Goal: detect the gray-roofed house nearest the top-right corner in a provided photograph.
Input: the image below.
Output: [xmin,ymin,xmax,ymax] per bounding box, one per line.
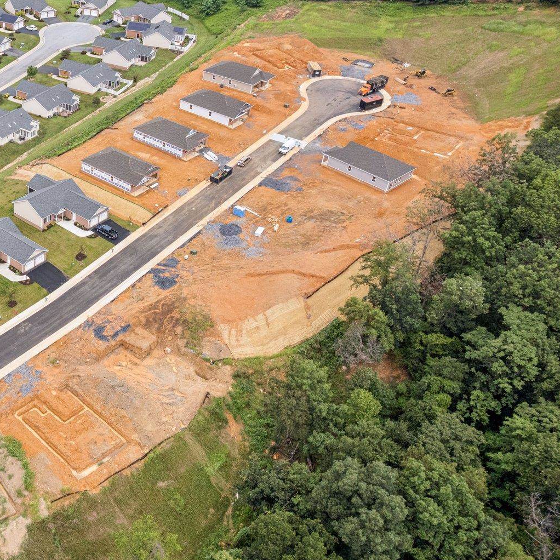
[316,135,415,193]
